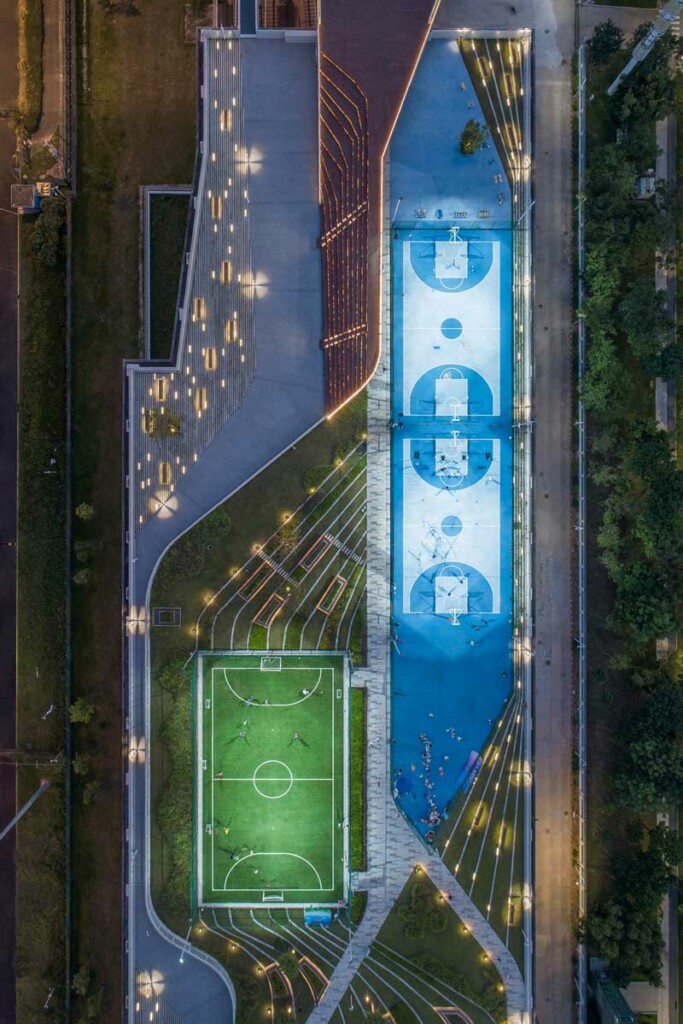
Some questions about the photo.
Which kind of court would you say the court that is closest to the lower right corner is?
basketball court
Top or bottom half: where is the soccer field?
bottom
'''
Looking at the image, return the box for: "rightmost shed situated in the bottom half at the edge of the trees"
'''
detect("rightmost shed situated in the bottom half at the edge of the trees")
[586,949,640,1024]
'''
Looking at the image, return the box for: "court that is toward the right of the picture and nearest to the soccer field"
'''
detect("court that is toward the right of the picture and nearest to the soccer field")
[403,438,501,614]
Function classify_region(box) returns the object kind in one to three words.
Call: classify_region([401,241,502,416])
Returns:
basketball court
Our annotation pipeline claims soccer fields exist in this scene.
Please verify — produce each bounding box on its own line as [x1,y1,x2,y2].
[196,650,351,909]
